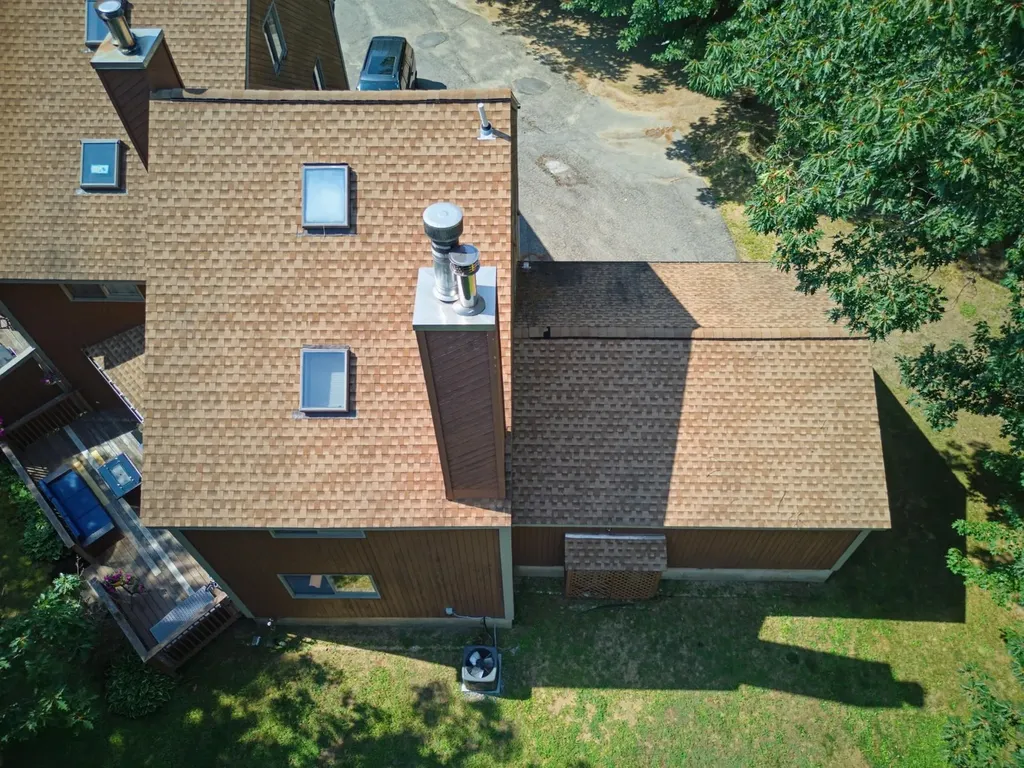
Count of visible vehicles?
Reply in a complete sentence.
The picture shows 1 vehicle.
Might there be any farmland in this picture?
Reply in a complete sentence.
No, there is no farmland in the image.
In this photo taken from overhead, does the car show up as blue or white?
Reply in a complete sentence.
From above, the car appears blue.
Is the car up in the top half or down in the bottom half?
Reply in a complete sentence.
The car is in the top half of the image.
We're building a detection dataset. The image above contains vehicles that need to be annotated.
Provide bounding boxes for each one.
[360,39,417,87]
